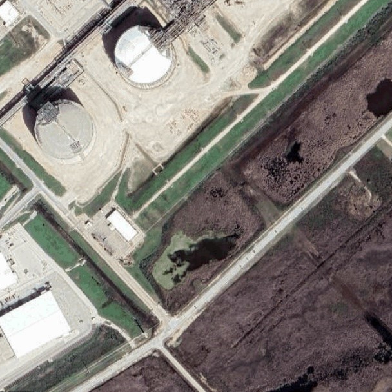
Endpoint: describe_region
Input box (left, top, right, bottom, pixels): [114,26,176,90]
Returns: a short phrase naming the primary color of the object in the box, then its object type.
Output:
white storage tank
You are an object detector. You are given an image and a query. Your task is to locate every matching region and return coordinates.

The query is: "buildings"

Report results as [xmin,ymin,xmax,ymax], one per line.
[0,1,19,27]
[106,210,137,242]
[0,290,71,360]
[0,252,17,290]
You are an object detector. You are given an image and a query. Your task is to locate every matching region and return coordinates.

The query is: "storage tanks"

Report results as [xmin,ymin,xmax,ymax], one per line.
[34,101,97,165]
[114,26,176,90]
